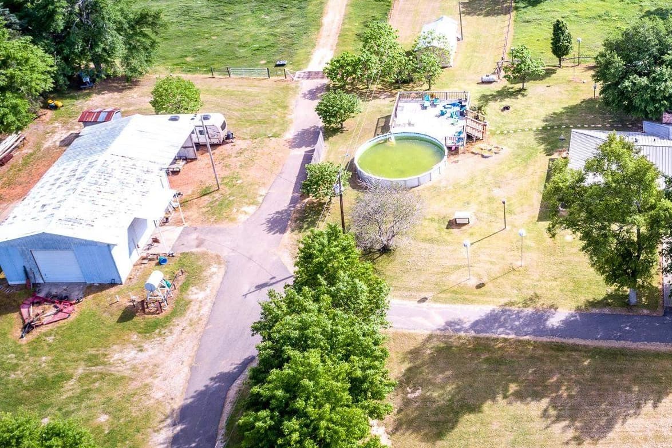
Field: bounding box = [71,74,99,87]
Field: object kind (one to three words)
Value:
vehicle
